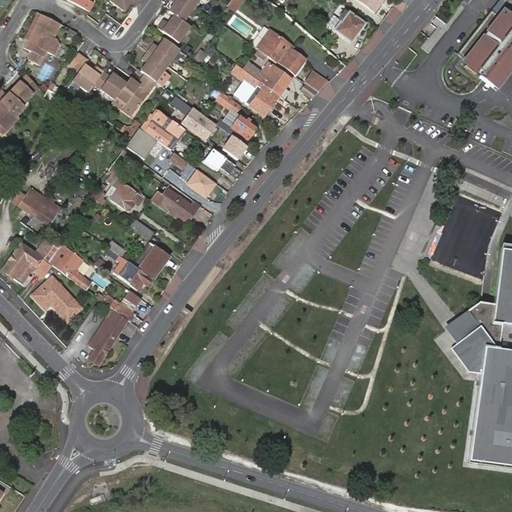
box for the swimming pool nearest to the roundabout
[90,273,110,291]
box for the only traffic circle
[66,382,142,459]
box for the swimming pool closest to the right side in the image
[228,14,254,38]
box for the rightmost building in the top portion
[459,0,512,93]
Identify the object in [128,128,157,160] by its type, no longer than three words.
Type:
building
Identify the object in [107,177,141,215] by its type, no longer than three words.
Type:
house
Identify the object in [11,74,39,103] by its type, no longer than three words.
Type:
house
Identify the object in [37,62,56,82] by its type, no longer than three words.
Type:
swimming pool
